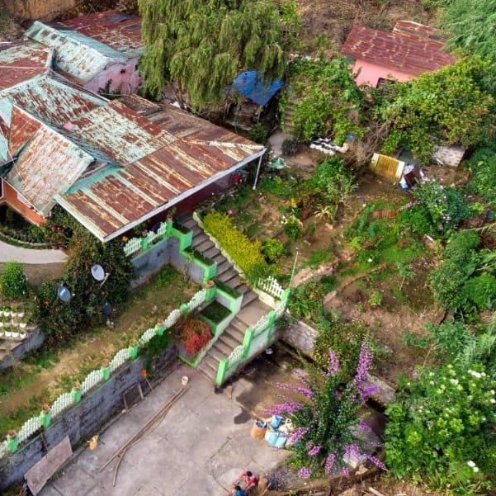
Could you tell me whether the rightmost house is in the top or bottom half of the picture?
top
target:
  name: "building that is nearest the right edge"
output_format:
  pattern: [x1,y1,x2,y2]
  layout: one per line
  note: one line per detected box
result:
[339,20,451,86]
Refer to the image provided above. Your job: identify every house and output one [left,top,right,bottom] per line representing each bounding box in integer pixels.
[0,46,266,258]
[339,20,451,86]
